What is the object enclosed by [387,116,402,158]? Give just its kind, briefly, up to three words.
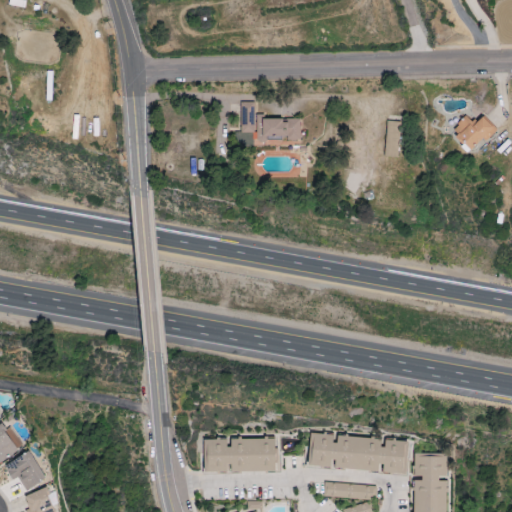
barn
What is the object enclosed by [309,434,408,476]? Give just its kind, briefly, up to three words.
building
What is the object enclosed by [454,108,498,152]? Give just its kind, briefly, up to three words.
house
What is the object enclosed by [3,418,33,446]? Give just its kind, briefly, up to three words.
swimming pool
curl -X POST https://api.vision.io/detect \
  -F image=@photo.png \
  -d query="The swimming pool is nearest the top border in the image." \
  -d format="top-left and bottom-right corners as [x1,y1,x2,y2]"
[432,94,474,136]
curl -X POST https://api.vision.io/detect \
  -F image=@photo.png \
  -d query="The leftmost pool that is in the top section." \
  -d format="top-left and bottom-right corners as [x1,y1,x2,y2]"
[250,142,302,177]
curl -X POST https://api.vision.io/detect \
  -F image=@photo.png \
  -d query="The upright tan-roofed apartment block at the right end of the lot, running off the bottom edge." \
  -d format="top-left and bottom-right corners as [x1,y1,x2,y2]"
[415,454,450,512]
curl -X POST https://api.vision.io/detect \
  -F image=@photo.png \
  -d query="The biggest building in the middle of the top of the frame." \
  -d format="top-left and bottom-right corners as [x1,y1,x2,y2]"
[256,112,302,142]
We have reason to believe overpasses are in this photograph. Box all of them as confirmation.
[130,190,168,362]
